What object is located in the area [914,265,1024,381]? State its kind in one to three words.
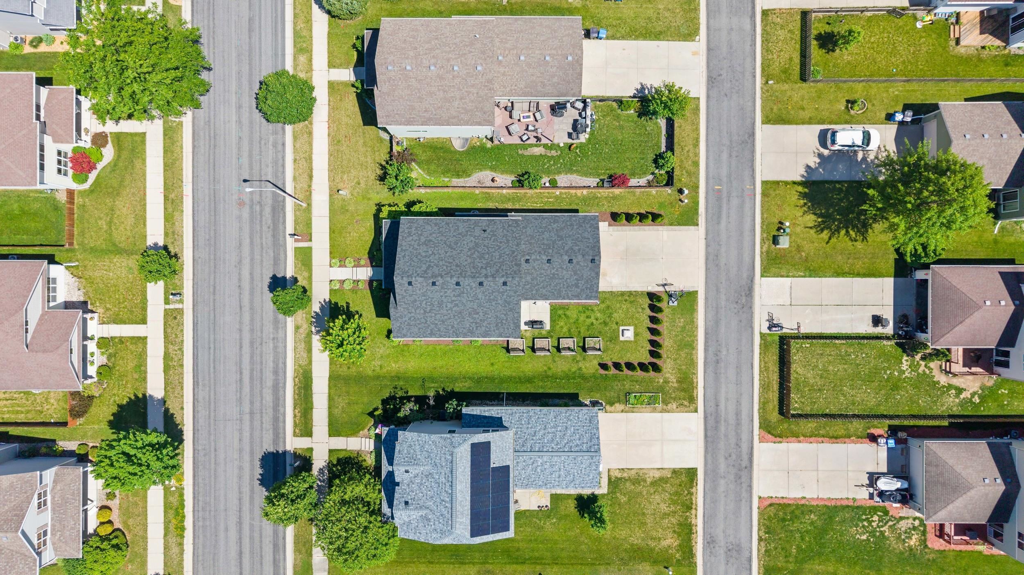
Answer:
house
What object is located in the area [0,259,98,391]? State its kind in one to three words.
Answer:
house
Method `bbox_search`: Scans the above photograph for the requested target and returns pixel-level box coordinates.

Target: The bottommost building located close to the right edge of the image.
[908,436,1024,563]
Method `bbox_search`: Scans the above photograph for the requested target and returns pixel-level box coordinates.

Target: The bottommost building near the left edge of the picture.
[0,444,97,575]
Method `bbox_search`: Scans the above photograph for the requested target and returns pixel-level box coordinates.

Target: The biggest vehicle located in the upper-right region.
[830,125,881,149]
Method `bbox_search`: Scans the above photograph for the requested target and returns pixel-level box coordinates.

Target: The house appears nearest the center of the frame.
[382,212,601,340]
